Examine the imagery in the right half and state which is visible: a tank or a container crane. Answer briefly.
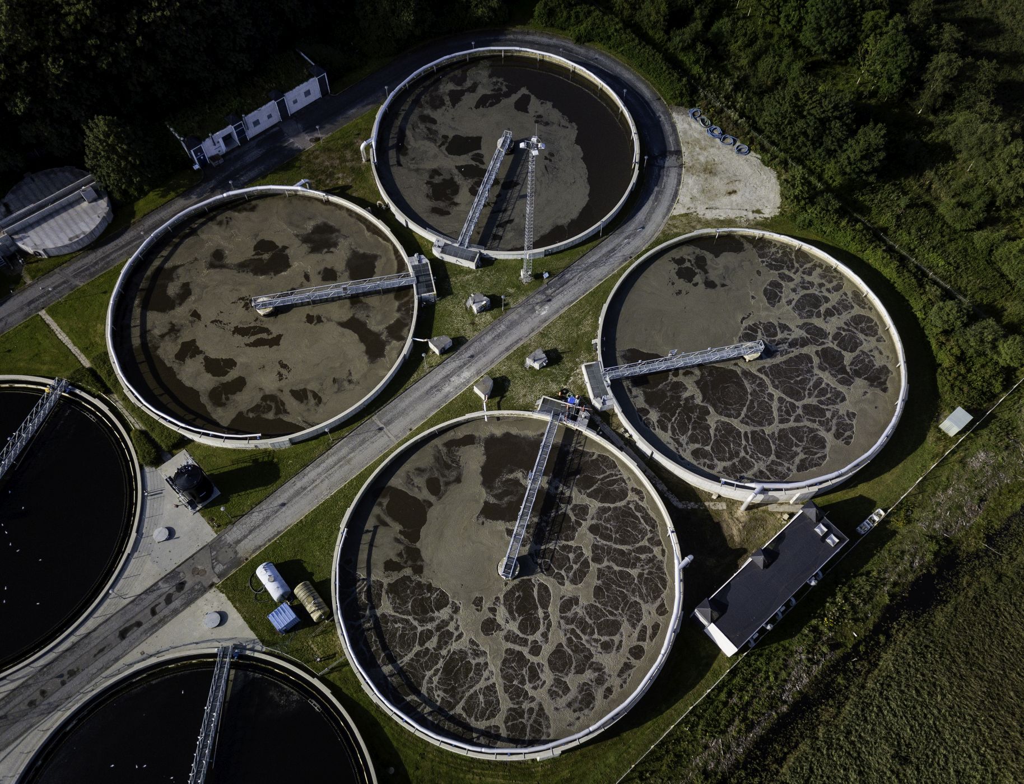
tank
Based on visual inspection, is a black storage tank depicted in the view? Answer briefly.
Yes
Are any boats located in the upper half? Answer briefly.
No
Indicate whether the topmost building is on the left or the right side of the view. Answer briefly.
left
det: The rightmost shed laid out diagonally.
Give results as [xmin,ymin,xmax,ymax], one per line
[934,405,974,442]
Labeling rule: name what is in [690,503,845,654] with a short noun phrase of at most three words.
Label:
building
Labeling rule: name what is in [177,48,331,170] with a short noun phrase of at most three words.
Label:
building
